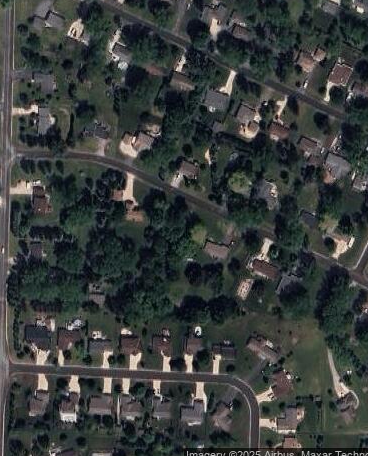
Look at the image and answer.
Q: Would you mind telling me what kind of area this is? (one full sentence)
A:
This looks like a residential area.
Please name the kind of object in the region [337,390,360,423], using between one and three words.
house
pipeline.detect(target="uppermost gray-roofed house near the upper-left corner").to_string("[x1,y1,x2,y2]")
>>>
[33,0,64,29]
